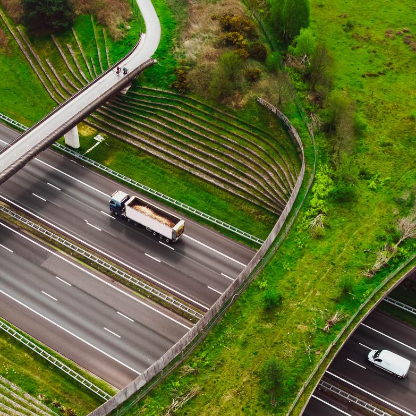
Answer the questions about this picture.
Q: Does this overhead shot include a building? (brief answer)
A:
No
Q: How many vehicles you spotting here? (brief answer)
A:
2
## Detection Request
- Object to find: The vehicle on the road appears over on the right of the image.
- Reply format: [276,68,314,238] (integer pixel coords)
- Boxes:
[367,351,413,381]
